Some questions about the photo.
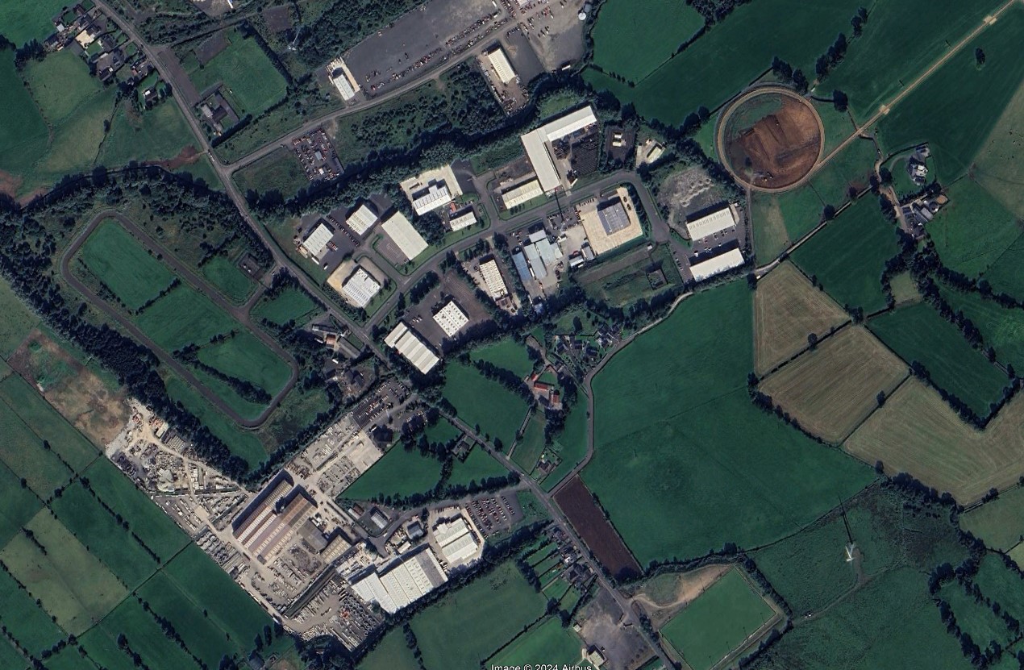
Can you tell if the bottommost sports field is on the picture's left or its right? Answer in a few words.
right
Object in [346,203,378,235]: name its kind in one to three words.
building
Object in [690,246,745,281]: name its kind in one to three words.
building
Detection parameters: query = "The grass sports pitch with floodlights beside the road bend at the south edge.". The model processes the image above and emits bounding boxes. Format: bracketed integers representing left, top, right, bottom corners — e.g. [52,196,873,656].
[659,565,784,670]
